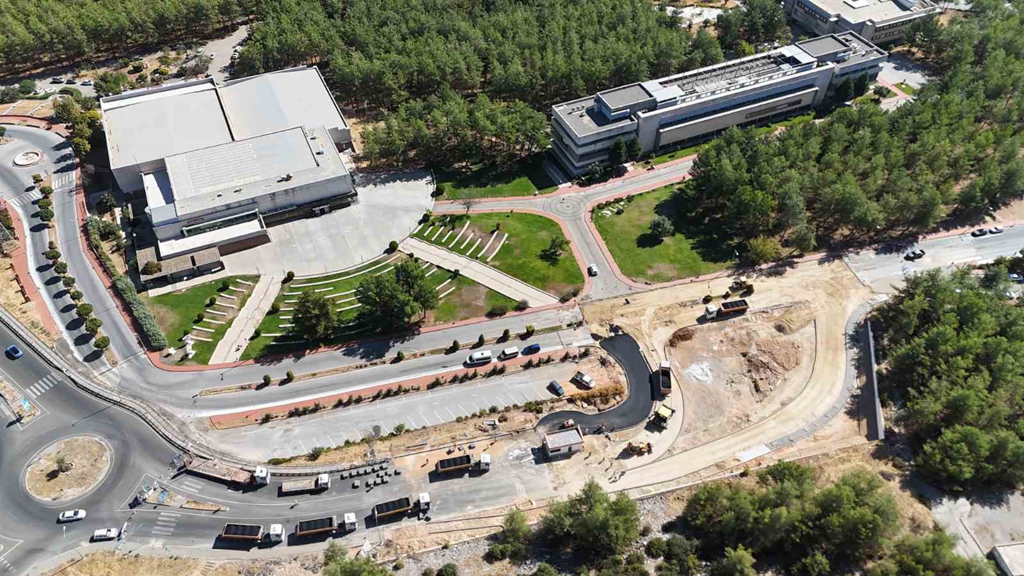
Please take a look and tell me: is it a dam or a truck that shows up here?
truck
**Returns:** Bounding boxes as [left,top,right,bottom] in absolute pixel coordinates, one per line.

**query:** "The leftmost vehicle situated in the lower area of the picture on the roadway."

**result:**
[5,346,23,359]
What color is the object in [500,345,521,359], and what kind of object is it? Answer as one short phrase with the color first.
white vehicle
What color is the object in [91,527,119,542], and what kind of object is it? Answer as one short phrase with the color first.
white car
